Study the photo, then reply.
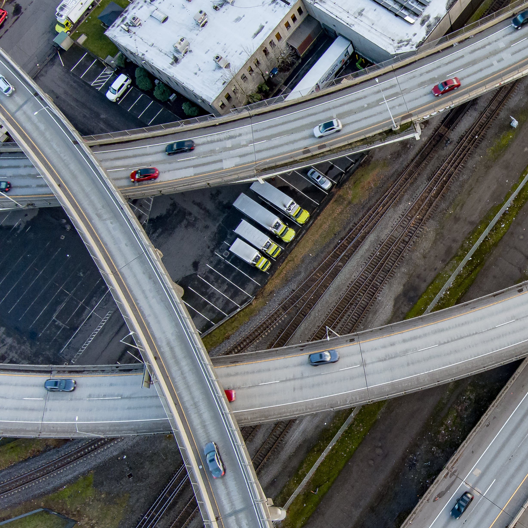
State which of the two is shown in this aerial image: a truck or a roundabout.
truck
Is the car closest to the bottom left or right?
right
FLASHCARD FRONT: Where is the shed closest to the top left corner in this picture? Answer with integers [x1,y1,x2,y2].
[54,31,81,57]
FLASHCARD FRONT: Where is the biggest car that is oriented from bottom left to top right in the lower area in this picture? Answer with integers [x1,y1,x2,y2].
[449,488,476,522]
